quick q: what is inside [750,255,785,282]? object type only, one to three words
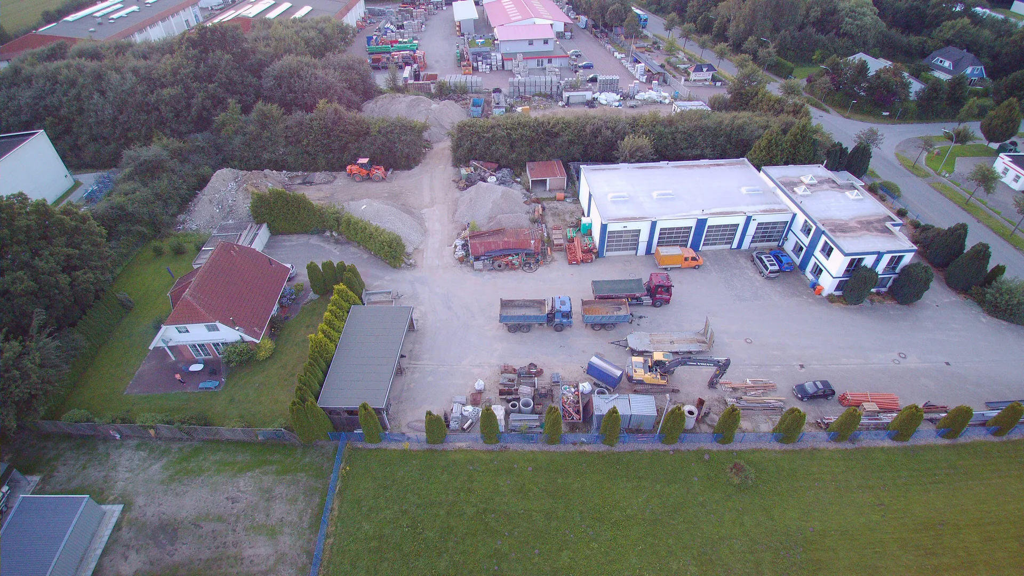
car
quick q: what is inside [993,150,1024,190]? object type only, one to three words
building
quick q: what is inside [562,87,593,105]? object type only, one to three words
building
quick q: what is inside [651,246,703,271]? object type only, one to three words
truck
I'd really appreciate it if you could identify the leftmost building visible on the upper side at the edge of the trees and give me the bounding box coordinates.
[0,130,76,204]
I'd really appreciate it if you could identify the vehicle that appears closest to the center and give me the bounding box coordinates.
[500,296,574,331]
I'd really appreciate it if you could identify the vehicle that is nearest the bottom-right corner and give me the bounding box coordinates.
[791,380,839,404]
